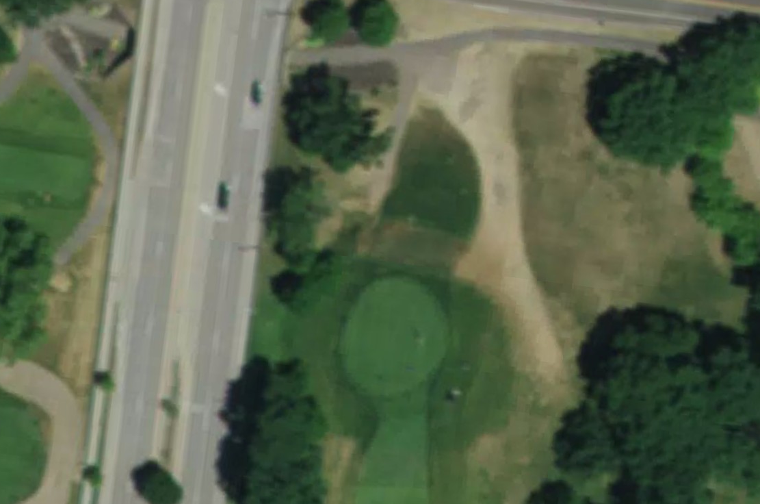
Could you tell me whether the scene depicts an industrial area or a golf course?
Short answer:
golf course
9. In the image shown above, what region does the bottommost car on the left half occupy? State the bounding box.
[216,181,230,210]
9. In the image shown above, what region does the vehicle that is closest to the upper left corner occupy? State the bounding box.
[249,78,263,105]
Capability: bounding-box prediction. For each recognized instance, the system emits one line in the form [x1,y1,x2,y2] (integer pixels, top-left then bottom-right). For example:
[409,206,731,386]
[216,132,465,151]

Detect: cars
[249,78,263,105]
[216,181,230,210]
